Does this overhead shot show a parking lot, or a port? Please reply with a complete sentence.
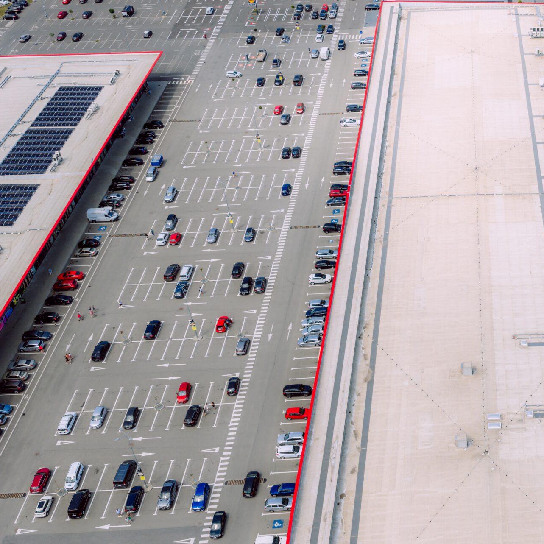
This image shows a parking lot.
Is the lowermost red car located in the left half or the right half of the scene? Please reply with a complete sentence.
The lowermost red car appears in the left half of the scene.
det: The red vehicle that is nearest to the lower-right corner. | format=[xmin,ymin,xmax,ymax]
[284,407,311,421]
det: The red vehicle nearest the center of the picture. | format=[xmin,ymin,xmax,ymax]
[216,317,232,334]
